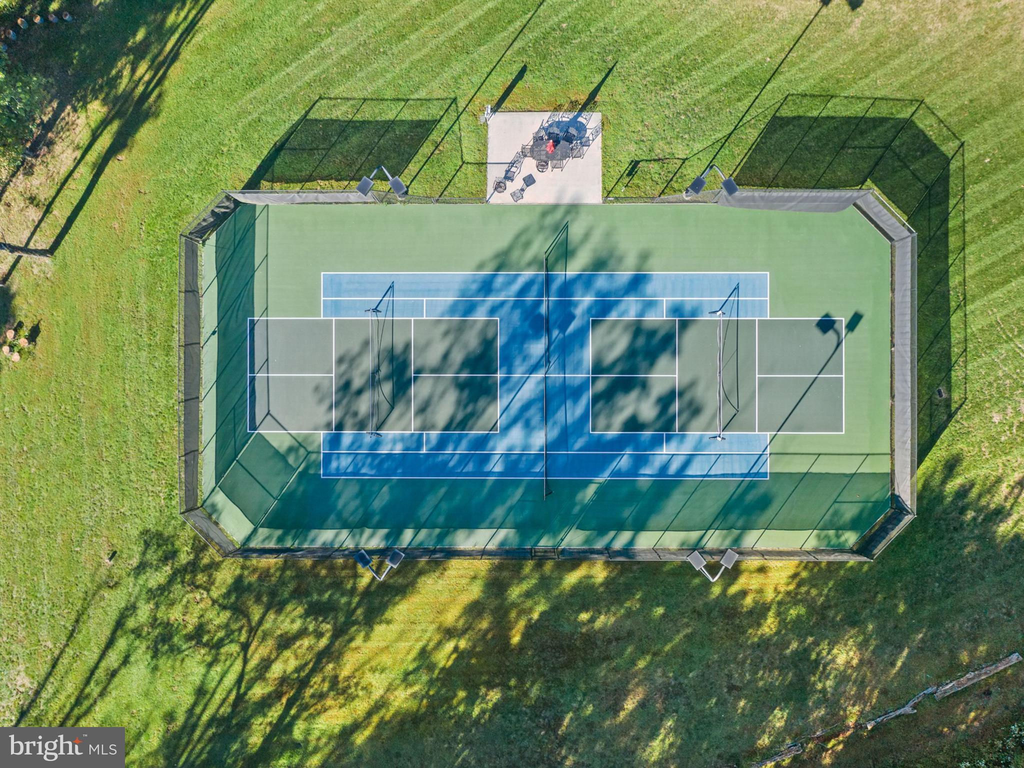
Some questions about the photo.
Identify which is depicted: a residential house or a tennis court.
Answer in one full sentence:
Looking from above, you can make out a tennis court.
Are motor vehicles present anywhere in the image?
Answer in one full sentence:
No, I can't see a single motor vehicle in this photo.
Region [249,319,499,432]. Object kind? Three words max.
sports court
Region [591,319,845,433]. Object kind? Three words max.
sports court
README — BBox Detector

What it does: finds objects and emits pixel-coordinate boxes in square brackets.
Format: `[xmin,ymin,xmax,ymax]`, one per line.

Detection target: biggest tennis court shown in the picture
[202,204,893,549]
